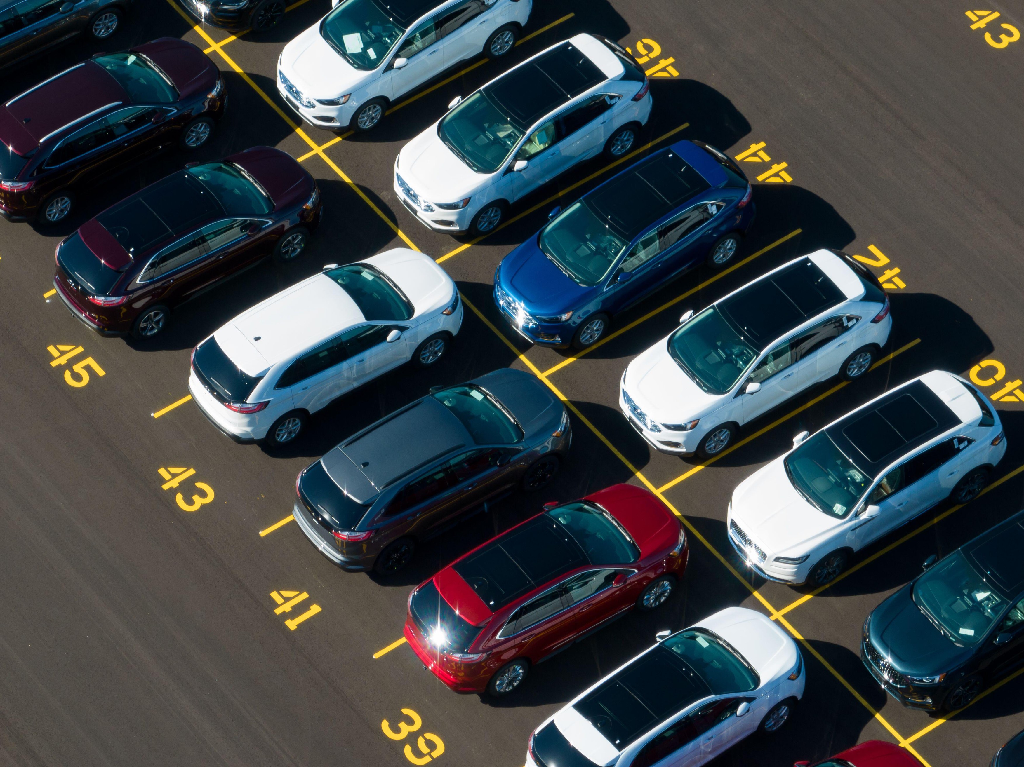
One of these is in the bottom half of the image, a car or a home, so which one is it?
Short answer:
car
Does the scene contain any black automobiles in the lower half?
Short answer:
Yes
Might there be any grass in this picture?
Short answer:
No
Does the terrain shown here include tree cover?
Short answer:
No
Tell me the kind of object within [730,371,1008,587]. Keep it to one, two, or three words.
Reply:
car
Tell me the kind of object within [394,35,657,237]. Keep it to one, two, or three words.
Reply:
car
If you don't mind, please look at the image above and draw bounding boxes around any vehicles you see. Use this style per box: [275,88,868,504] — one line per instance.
[51,152,323,342]
[791,745,920,767]
[861,507,1024,711]
[621,250,896,459]
[278,0,537,133]
[517,612,808,767]
[985,719,1024,767]
[494,141,760,348]
[186,254,463,449]
[0,43,227,228]
[730,371,1008,587]
[394,35,657,237]
[402,490,689,699]
[188,0,304,32]
[291,374,570,579]
[0,0,135,82]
